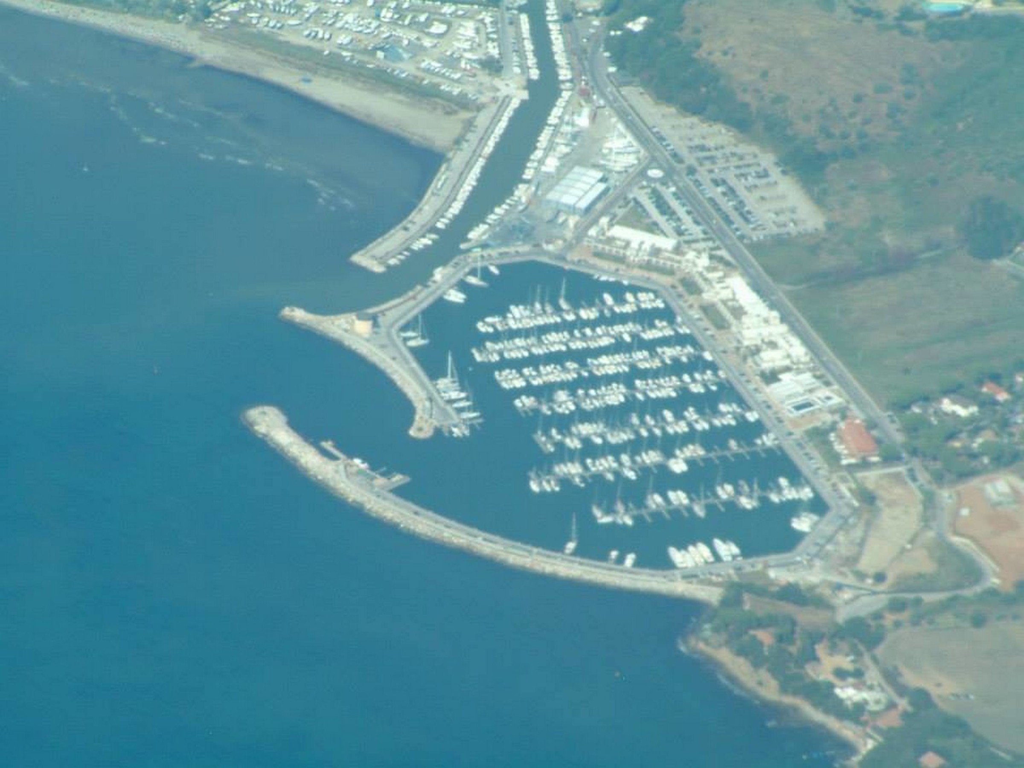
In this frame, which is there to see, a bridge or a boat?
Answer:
boat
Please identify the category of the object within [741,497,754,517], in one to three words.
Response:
boat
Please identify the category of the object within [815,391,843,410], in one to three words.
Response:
building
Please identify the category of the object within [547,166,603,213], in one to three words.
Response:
shed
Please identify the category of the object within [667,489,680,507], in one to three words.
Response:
boat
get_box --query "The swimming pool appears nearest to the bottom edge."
[789,401,817,413]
